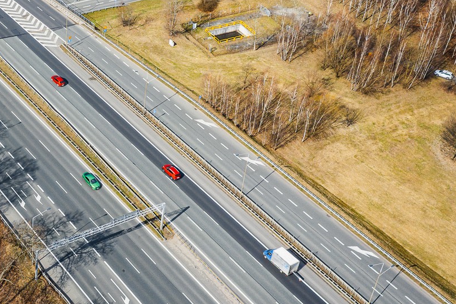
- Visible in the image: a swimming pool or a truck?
truck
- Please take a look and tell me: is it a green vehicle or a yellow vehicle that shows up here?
green vehicle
